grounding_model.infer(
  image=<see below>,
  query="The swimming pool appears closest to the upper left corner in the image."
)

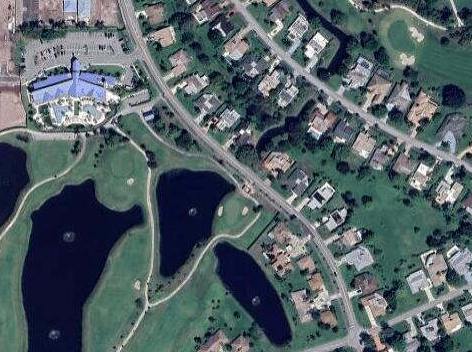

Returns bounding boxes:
[52,105,69,121]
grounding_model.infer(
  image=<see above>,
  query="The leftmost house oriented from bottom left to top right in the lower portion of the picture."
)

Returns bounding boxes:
[197,325,230,352]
